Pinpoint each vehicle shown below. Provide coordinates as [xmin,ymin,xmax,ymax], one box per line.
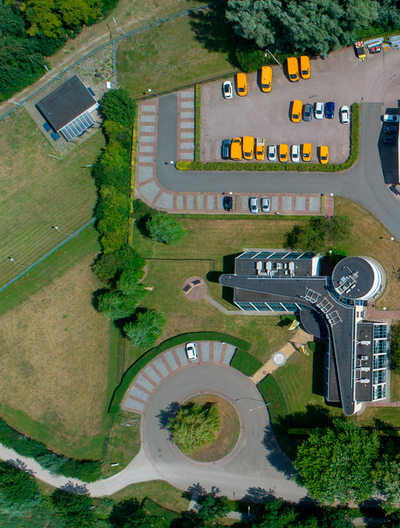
[381,113,398,123]
[300,54,311,80]
[382,124,398,133]
[340,106,349,124]
[261,65,272,93]
[279,143,289,163]
[236,72,248,97]
[287,56,299,83]
[302,142,312,162]
[254,137,266,161]
[303,103,312,122]
[223,81,233,100]
[326,101,335,119]
[224,196,233,211]
[243,135,254,160]
[250,196,259,213]
[291,99,303,124]
[222,139,231,159]
[268,144,277,162]
[230,138,242,160]
[186,342,197,361]
[381,135,397,144]
[318,145,328,164]
[291,144,300,163]
[315,101,324,119]
[261,197,271,213]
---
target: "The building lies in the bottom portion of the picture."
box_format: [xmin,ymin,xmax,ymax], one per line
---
[220,251,389,419]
